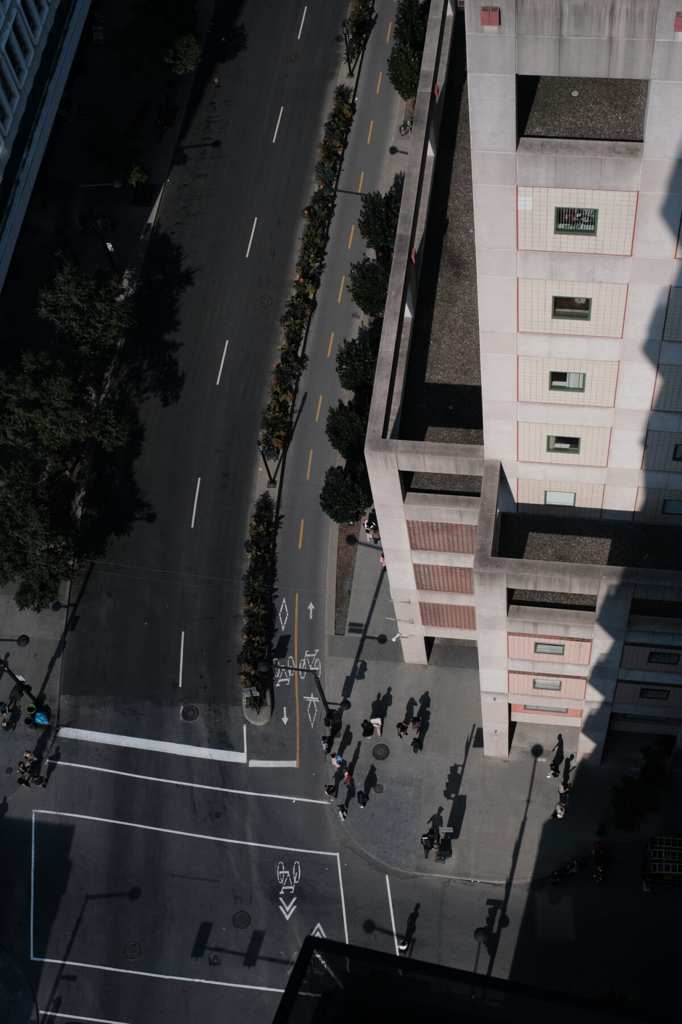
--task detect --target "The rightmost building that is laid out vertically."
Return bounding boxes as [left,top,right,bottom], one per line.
[365,0,682,775]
